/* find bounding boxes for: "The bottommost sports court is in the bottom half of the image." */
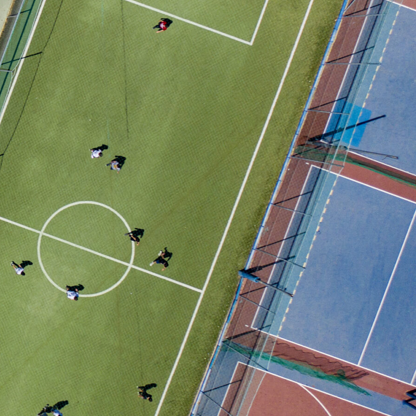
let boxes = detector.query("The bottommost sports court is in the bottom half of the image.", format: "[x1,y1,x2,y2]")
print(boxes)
[196,346,416,416]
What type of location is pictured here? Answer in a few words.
sports ground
